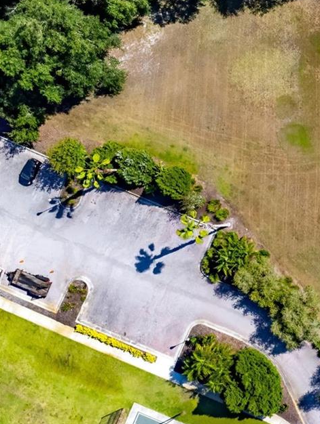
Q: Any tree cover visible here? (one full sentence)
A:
Yes, there is tree cover in the image.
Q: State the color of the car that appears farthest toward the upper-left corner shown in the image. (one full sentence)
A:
The car that appears farthest toward the upper-left corner looks black in the image.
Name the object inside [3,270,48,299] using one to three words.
trailer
